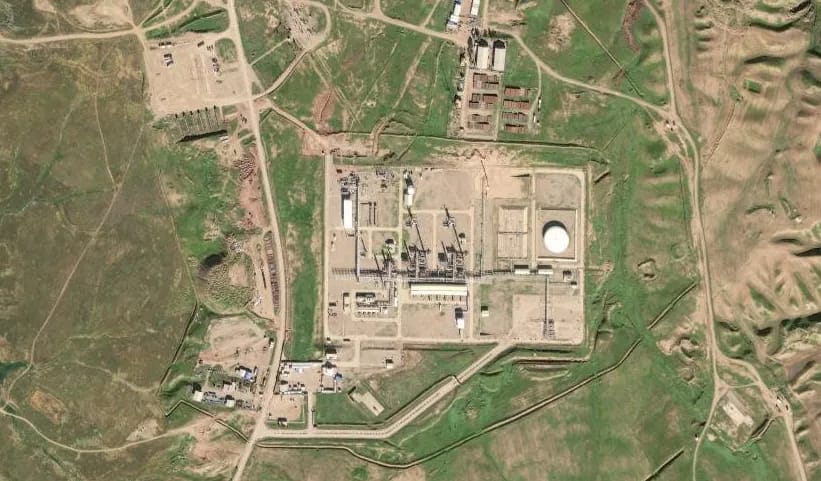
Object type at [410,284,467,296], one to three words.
building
